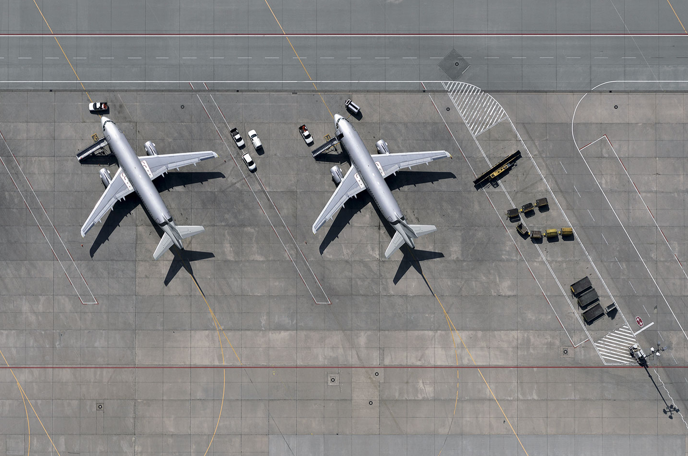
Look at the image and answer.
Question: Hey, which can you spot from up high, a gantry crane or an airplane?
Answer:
airplane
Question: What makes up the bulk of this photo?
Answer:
paved ground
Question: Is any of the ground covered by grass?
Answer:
No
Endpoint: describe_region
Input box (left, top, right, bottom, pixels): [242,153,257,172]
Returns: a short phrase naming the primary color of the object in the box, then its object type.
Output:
white car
